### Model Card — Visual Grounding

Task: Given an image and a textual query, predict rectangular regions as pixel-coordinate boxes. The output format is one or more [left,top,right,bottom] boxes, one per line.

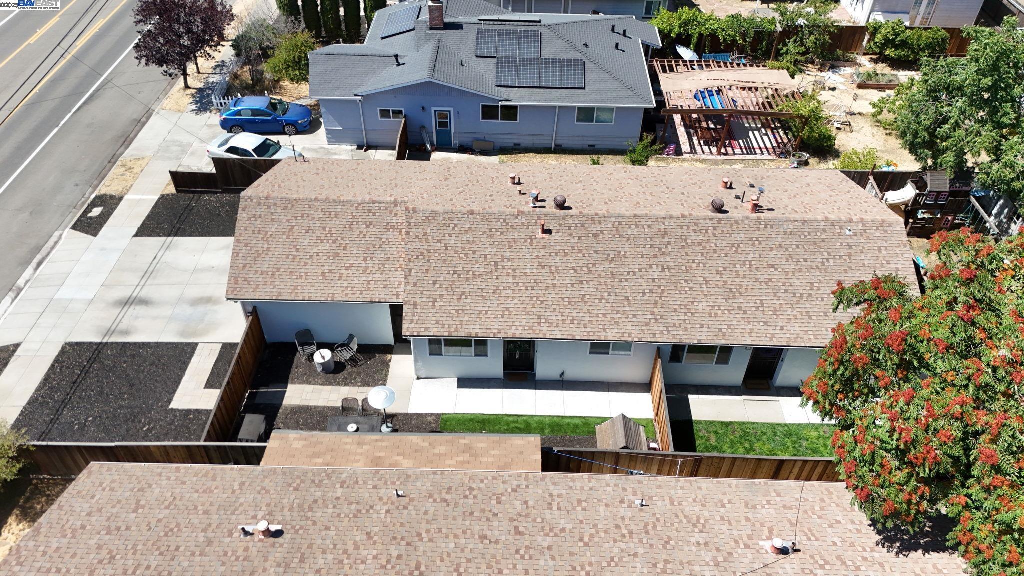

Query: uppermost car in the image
[217,91,313,132]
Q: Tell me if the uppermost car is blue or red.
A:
blue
